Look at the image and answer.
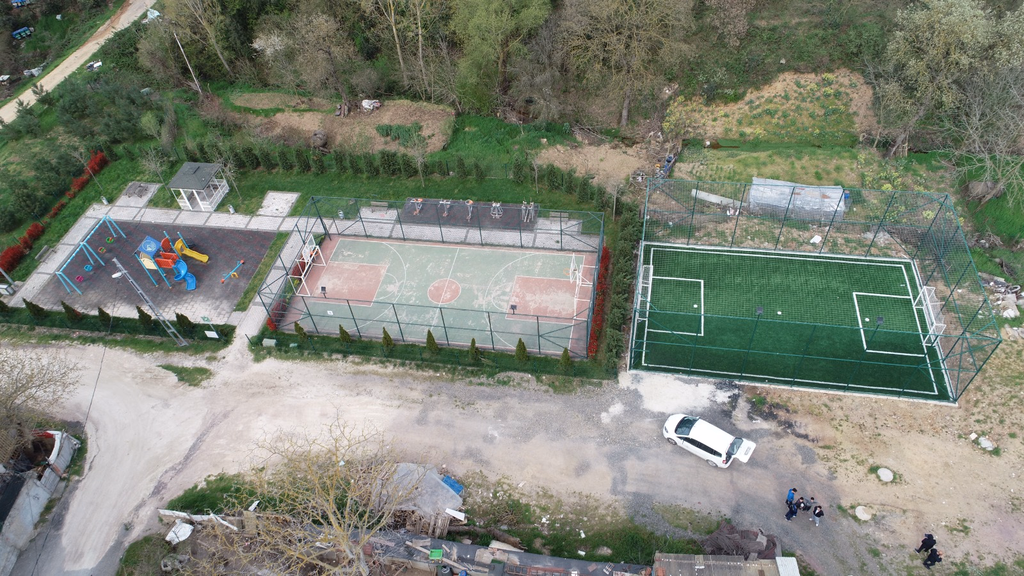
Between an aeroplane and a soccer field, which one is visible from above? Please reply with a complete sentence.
The image shows a soccer field.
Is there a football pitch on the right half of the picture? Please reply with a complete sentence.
Yes, you'll find a football pitch on the right half of the picture.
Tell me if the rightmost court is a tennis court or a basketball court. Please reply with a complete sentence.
What you see as the rightmost court is a basketball court.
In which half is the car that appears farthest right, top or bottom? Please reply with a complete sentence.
You can find the car that appears farthest right in the bottom half.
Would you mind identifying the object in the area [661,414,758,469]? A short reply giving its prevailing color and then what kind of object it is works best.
white car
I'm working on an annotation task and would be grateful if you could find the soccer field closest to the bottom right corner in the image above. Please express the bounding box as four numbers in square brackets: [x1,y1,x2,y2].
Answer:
[628,239,959,405]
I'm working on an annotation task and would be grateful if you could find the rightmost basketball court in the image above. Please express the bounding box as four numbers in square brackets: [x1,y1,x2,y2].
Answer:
[274,230,602,362]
